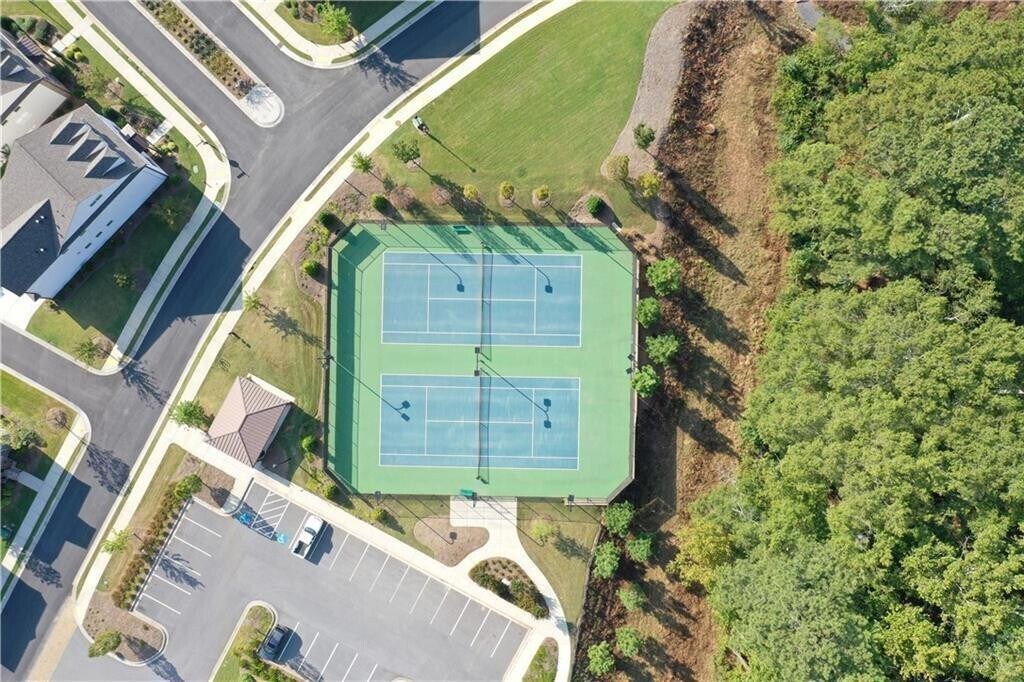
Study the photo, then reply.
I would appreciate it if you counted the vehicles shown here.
2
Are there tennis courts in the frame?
Yes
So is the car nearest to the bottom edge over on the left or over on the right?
left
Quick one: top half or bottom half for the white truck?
bottom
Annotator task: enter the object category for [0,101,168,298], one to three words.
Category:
house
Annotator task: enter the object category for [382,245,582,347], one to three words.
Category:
tennis court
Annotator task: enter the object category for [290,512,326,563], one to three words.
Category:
truck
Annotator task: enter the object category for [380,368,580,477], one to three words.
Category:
tennis court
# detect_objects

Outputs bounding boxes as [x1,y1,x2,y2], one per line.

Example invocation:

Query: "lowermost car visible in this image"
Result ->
[261,623,291,662]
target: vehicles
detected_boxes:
[290,512,326,563]
[261,623,291,662]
